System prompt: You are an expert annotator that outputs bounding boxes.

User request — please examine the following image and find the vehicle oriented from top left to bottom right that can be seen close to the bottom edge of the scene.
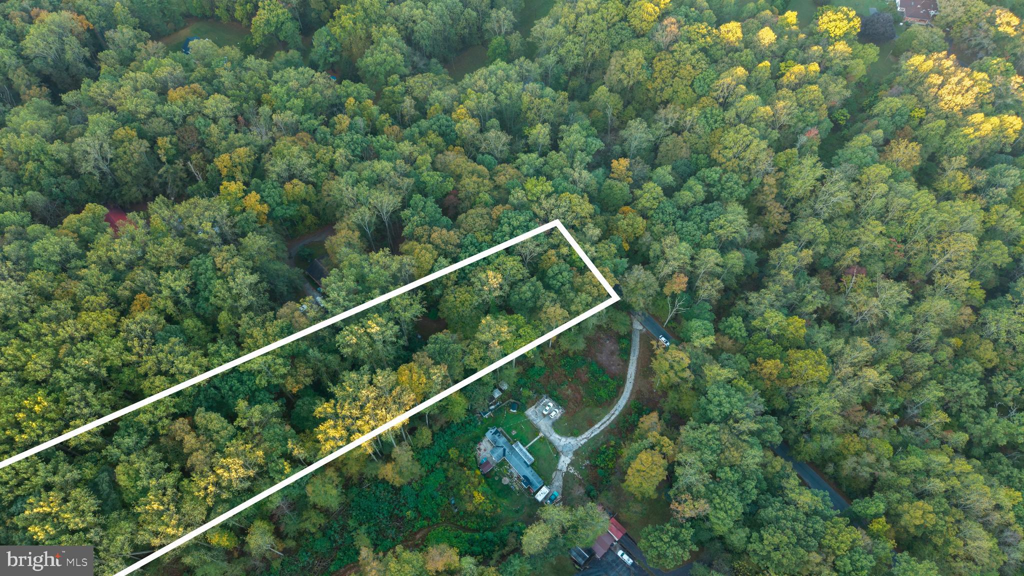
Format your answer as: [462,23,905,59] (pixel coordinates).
[617,549,634,567]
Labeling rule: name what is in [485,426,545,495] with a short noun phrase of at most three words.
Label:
house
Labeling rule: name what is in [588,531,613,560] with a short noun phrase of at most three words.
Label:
house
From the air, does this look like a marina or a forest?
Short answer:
forest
